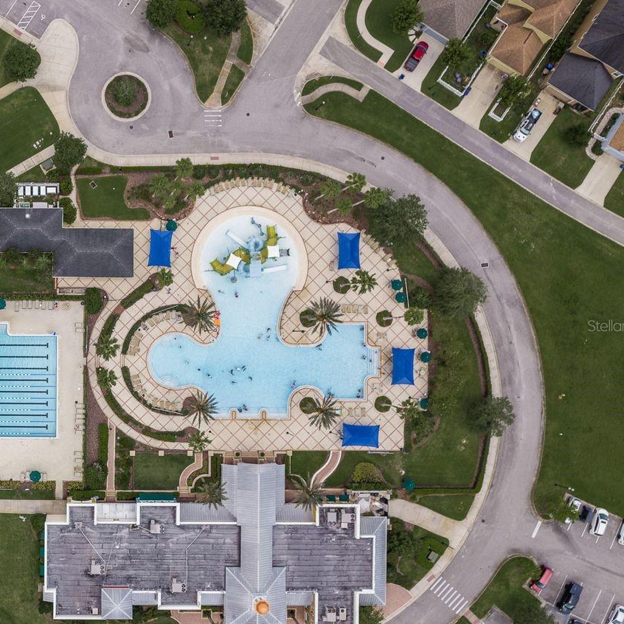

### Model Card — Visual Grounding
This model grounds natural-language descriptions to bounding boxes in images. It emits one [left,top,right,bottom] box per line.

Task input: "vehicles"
[569,490,585,518]
[531,565,551,592]
[513,110,541,142]
[604,603,624,624]
[587,509,609,536]
[576,501,595,527]
[557,580,581,614]
[616,520,624,543]
[403,42,428,73]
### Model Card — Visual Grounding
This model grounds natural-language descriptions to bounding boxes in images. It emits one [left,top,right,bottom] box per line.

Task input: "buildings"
[0,208,136,277]
[540,0,624,113]
[483,0,579,76]
[40,461,386,624]
[600,114,624,161]
[413,0,487,45]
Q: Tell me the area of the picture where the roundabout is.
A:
top left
